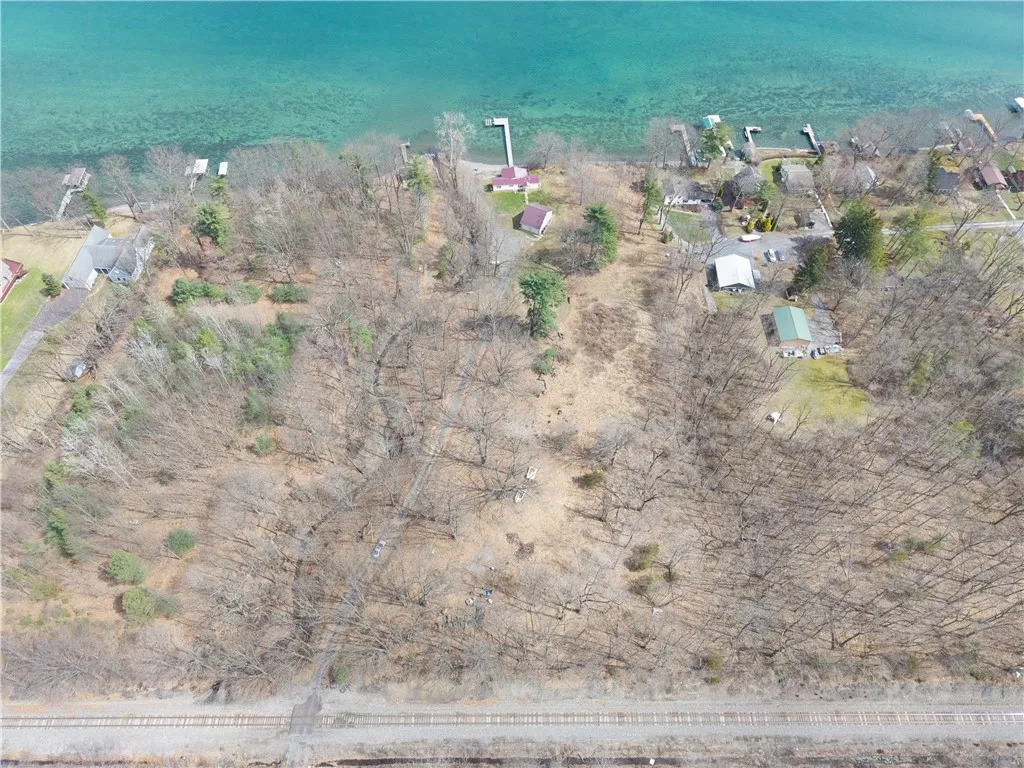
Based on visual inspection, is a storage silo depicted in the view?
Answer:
No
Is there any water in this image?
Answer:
Yes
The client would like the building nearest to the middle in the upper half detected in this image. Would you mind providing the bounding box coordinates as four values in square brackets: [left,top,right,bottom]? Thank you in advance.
[520,203,551,234]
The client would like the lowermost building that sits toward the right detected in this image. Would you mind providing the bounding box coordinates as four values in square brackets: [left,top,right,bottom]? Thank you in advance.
[769,304,811,348]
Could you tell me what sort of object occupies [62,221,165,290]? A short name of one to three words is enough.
house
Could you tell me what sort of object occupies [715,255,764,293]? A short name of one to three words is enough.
building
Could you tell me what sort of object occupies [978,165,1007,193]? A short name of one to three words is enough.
house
